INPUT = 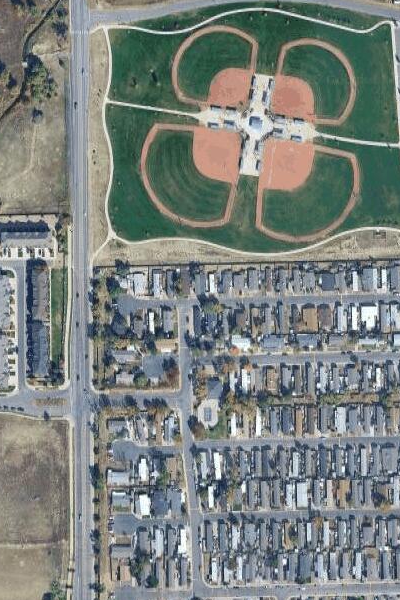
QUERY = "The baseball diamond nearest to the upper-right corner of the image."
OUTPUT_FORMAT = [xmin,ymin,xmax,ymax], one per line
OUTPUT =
[268,37,356,125]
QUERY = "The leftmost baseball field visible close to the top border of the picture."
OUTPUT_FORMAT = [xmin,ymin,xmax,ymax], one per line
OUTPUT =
[171,22,259,113]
